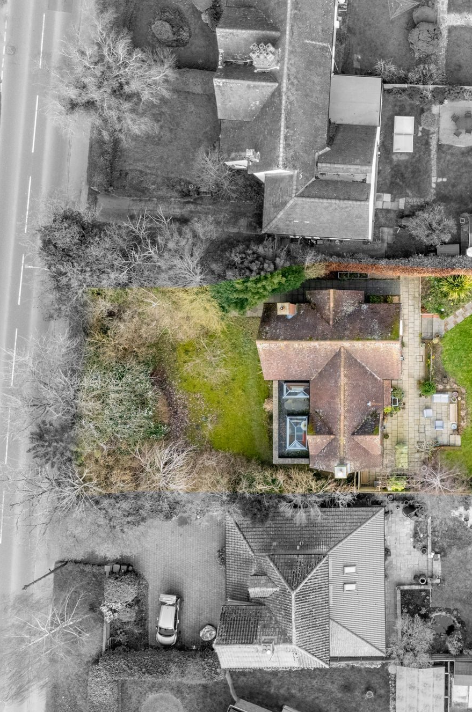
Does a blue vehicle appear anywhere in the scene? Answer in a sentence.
No, this view has no blue vehicle in it.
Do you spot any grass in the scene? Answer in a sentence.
Yes, there is grass in the image.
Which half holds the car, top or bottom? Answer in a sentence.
The car is in the bottom half of the image.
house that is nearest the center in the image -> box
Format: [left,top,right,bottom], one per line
[256,289,404,478]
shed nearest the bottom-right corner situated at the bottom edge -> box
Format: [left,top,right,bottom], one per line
[453,667,472,686]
